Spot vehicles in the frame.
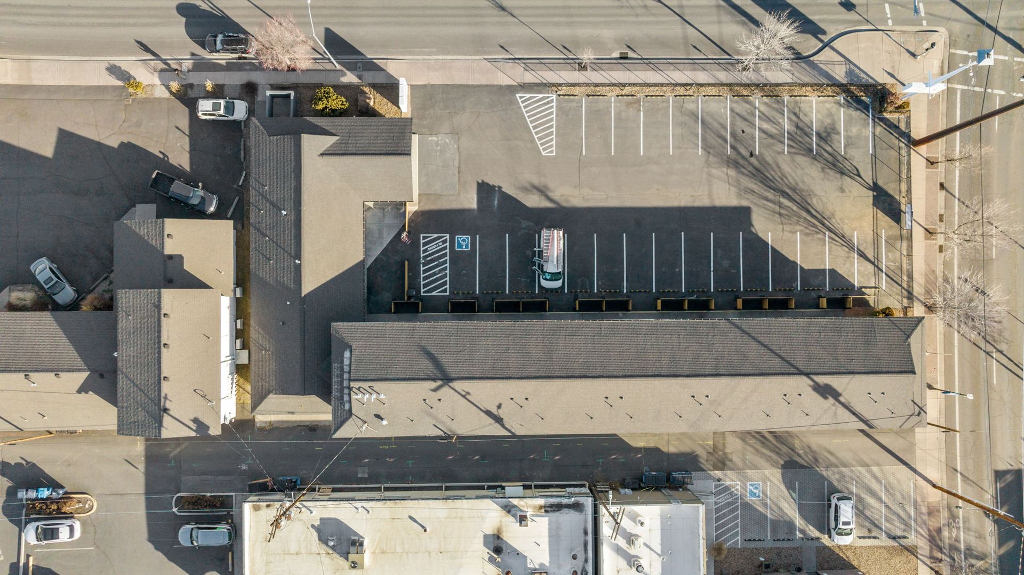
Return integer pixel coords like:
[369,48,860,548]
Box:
[32,257,75,306]
[27,520,81,545]
[830,493,856,543]
[180,523,233,548]
[149,169,218,213]
[197,97,249,121]
[531,229,565,288]
[205,30,257,56]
